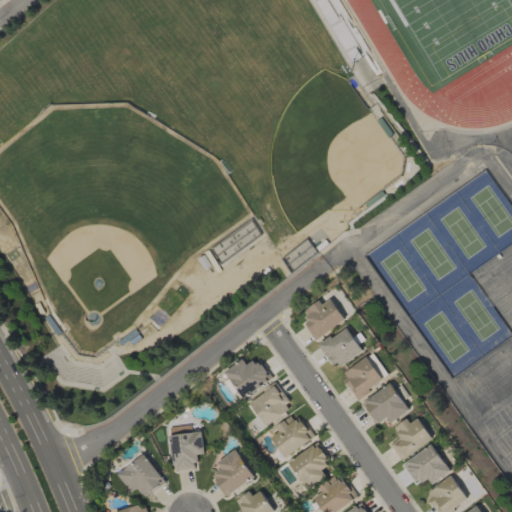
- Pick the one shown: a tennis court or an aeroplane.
tennis court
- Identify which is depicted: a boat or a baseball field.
baseball field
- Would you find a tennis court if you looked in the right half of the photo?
Yes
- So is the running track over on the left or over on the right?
right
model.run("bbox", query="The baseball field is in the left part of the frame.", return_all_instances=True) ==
[0,104,253,353]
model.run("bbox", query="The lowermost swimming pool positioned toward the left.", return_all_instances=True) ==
[107,498,128,510]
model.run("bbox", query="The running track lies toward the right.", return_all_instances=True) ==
[344,0,512,128]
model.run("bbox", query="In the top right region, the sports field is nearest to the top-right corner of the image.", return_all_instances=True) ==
[375,0,512,94]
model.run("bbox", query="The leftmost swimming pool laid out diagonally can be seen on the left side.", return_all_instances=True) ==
[123,440,140,460]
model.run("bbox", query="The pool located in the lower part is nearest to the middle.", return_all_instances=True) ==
[218,382,234,402]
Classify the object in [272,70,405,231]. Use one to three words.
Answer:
baseball field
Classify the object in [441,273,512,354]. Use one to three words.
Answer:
tennis court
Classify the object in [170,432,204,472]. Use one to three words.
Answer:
house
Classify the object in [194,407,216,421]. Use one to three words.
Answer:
swimming pool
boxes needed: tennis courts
[458,170,512,251]
[368,234,440,316]
[428,192,500,272]
[410,294,484,376]
[441,273,512,354]
[398,213,470,294]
